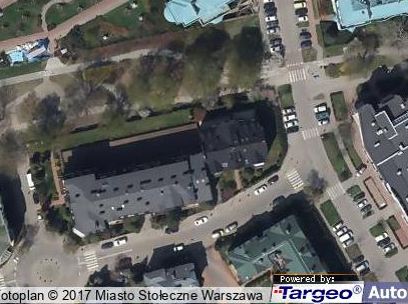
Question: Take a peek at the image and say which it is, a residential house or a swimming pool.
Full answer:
There is a residential house in the scene.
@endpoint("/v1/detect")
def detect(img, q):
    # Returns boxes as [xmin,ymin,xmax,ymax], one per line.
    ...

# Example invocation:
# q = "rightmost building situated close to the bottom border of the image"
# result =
[225,216,331,304]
